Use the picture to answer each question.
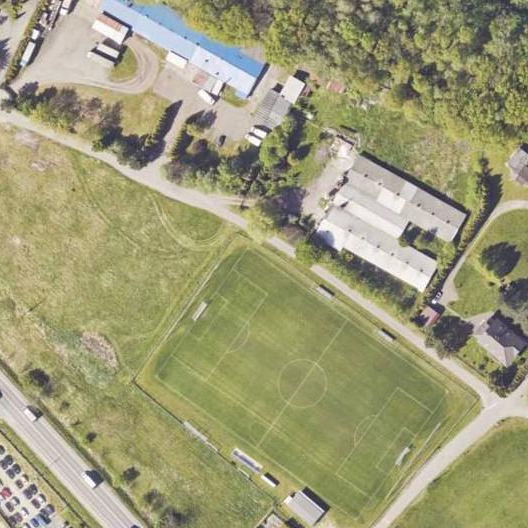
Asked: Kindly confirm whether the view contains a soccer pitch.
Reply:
Yes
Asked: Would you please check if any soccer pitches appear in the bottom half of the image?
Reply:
Yes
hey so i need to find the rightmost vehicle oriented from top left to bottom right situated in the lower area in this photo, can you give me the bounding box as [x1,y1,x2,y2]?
[83,470,99,489]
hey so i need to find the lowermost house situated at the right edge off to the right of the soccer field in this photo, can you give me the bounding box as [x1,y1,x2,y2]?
[477,318,528,366]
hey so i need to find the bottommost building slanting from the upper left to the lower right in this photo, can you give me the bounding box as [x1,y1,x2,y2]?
[283,490,328,525]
